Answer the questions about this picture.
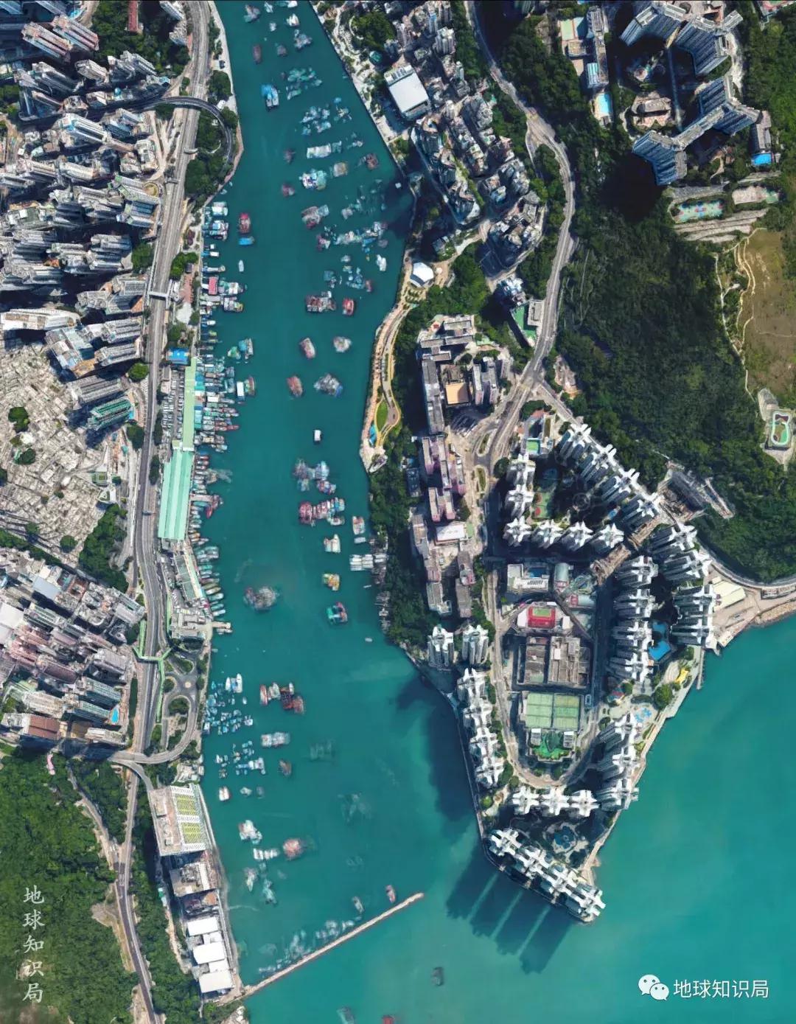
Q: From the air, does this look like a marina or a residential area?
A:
marina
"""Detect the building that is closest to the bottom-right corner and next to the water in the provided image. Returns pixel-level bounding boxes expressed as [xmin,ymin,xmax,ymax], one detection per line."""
[562,869,605,917]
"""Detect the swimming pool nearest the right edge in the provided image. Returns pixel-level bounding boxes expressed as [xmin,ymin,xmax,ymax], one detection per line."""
[749,152,773,168]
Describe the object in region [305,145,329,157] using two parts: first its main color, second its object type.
white boat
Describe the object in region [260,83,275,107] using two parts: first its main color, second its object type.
blue boat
